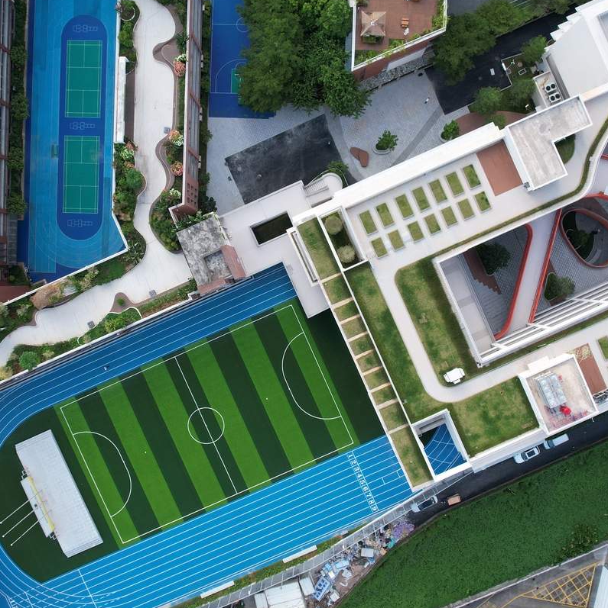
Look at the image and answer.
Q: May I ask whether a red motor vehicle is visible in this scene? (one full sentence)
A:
No, I can see no red motor vehicle in this picture.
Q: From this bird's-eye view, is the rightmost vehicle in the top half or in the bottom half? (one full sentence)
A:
You can find the rightmost vehicle in the bottom half.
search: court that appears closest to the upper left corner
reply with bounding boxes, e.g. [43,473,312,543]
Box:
[65,40,102,116]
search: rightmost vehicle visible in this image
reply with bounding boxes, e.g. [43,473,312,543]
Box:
[540,431,573,452]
